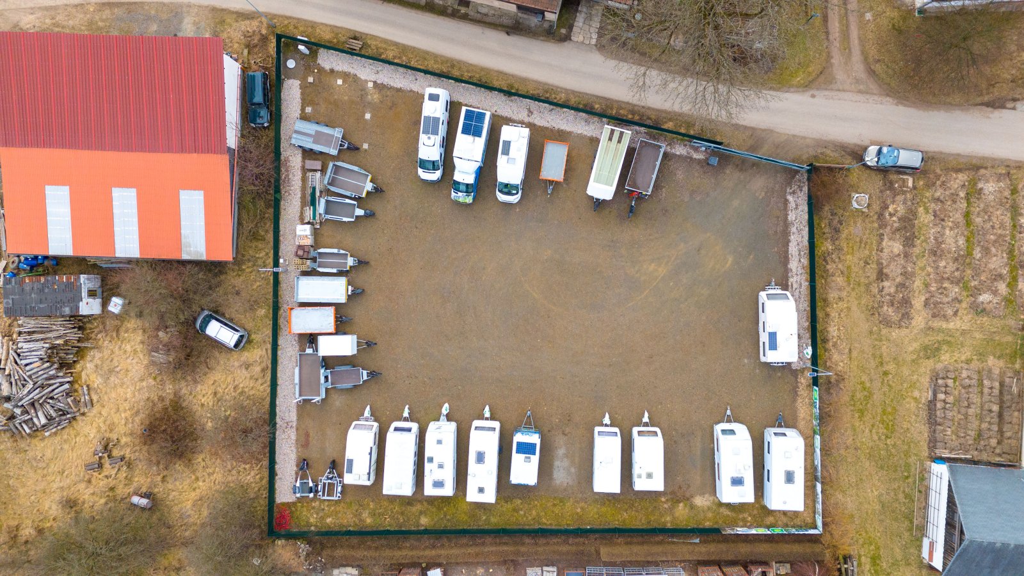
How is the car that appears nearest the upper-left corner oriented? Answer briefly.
from top to bottom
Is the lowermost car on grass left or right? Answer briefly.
left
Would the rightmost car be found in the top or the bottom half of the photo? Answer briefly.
top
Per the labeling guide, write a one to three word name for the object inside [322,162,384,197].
trailer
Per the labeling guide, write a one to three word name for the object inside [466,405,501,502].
camper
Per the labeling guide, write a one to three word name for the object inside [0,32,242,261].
barn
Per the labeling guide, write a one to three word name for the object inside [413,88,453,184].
van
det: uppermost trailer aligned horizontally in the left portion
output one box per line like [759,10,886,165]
[292,120,359,155]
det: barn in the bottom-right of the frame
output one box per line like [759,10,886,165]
[922,459,1024,576]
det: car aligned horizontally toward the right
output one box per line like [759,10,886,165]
[862,142,925,174]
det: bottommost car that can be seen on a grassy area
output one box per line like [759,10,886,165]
[192,310,252,352]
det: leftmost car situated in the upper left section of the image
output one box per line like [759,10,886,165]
[244,70,274,128]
